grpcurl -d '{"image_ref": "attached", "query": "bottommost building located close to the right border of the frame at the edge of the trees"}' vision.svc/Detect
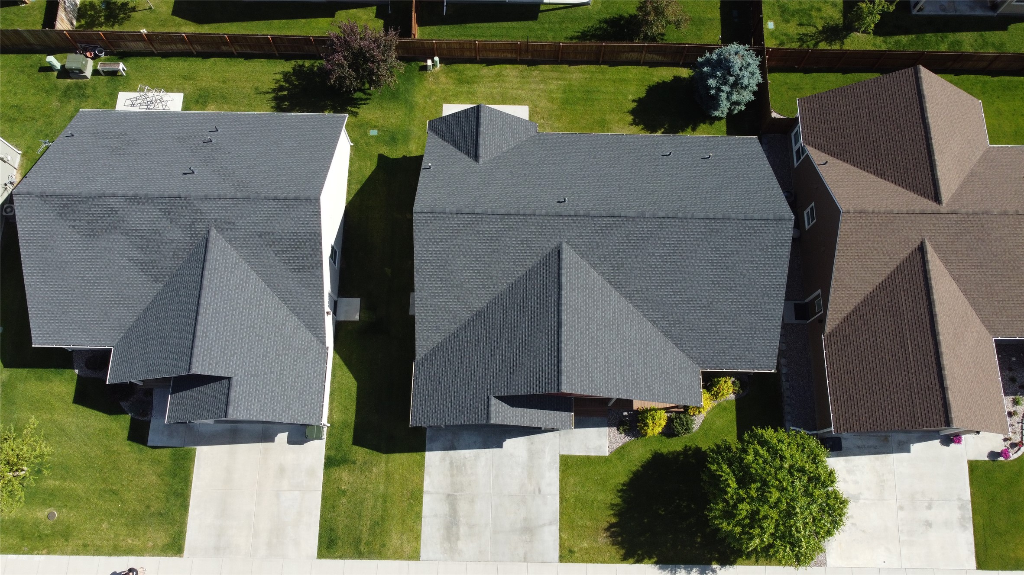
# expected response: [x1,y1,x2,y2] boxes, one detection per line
[789,63,1024,438]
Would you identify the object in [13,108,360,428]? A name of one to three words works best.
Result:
house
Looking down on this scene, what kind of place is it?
residential area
